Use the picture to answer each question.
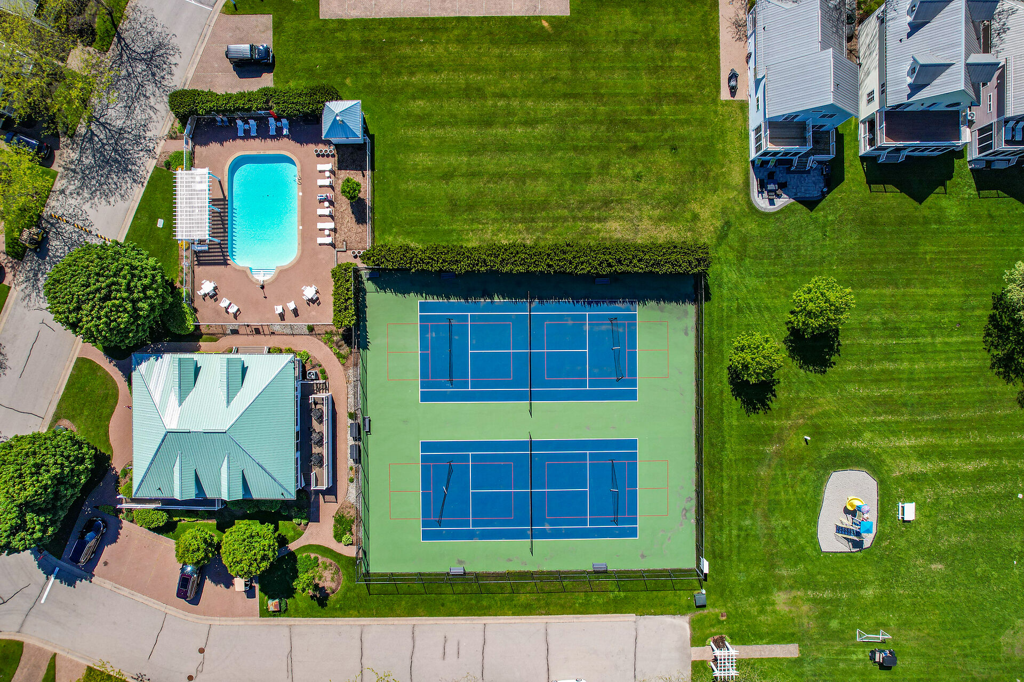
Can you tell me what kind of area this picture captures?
residential area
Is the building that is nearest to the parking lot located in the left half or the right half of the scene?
left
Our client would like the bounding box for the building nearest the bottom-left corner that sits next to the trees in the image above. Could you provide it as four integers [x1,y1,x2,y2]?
[129,351,308,503]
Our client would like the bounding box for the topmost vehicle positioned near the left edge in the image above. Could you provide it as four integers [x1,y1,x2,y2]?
[7,128,56,164]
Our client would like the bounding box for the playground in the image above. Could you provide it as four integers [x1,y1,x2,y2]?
[834,495,873,542]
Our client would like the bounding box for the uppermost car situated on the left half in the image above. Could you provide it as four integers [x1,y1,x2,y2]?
[227,43,273,67]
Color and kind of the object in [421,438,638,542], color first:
blue tennis court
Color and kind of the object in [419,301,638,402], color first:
blue tennis court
